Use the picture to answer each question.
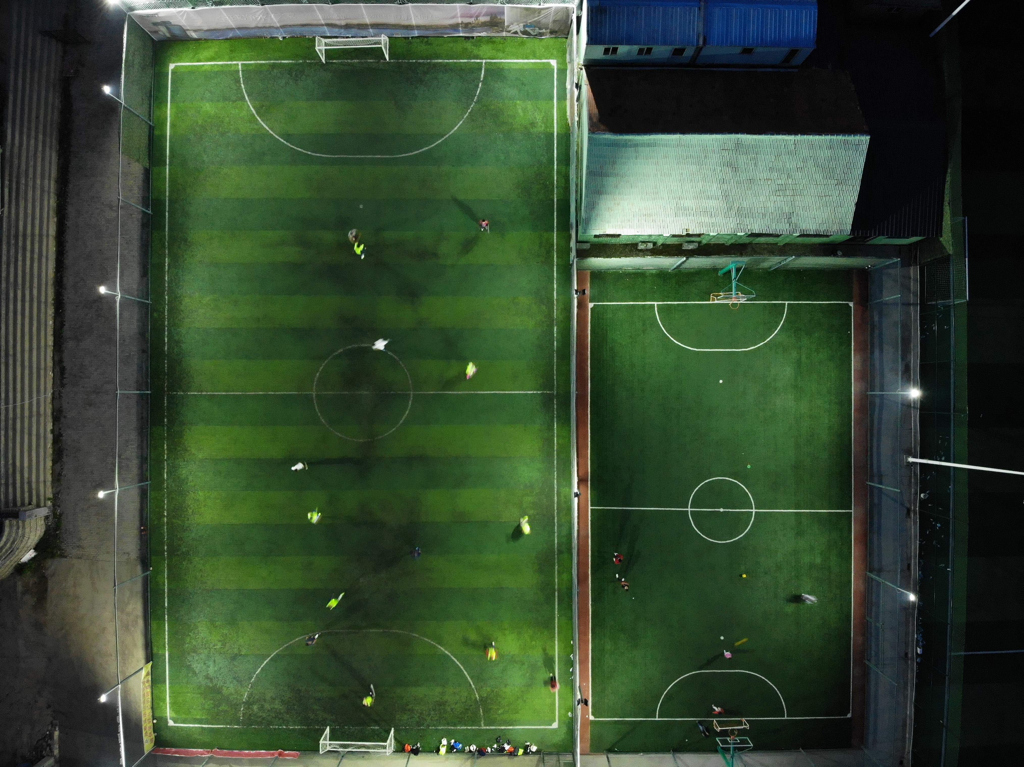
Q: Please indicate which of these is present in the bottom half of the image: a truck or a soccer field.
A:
soccer field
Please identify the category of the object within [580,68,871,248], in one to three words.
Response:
building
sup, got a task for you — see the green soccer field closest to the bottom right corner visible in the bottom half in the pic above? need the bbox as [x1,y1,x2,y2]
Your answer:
[578,270,869,756]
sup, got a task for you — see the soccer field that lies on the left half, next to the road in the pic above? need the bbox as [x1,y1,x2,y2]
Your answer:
[152,36,572,756]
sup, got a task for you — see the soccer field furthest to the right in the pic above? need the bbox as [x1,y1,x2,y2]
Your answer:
[931,0,1024,752]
